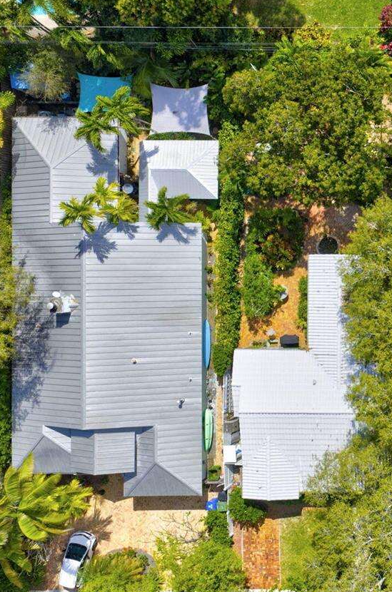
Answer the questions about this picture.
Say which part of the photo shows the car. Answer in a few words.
bottom left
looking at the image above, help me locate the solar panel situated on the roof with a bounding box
[55,311,69,328]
